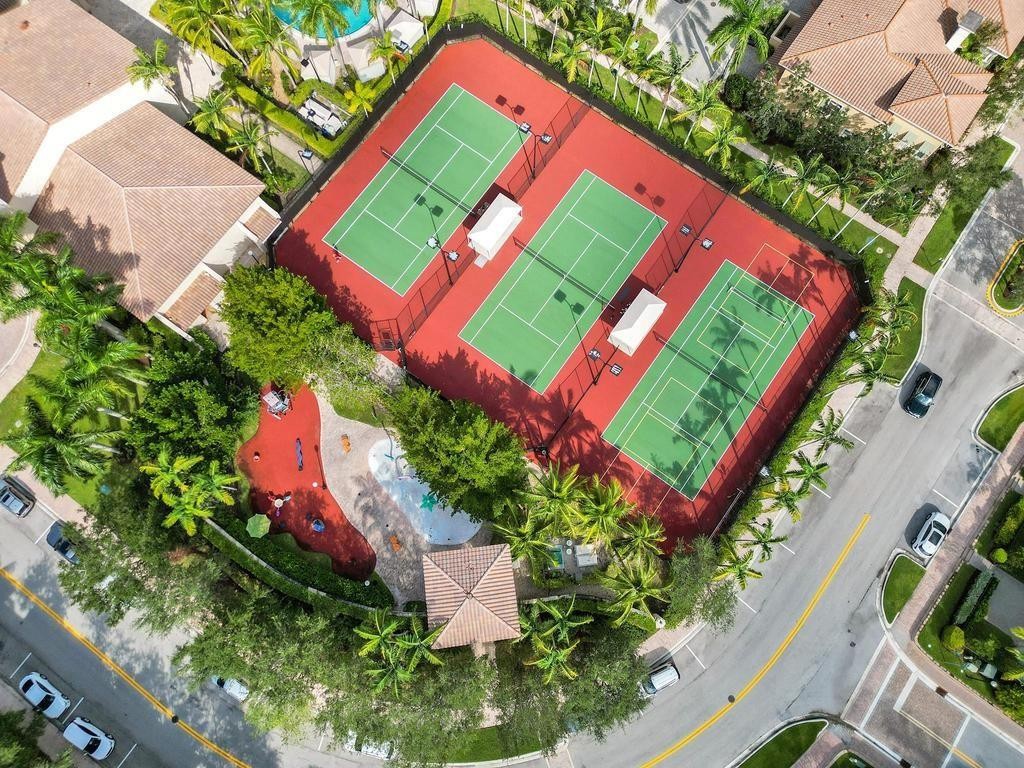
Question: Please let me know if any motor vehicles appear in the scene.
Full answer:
Yes, I can see a motor vehicle in this picture.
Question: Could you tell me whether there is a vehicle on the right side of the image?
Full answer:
Yes, there is a vehicle on the right side of the image.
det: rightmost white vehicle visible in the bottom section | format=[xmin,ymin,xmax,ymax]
[911,513,952,561]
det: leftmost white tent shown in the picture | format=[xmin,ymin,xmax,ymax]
[462,193,524,265]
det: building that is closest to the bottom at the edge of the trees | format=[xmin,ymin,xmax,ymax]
[422,543,521,648]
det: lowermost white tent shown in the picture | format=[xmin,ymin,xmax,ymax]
[605,288,668,361]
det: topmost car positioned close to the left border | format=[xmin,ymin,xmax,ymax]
[0,475,38,516]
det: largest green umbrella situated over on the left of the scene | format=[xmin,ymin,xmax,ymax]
[247,512,273,539]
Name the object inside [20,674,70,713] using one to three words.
car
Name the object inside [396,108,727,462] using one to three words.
tennis court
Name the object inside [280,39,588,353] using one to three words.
tennis court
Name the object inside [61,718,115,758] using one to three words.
car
